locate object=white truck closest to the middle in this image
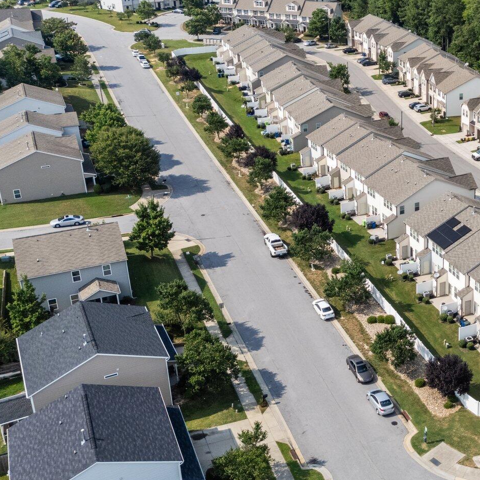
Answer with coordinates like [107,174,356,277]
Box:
[264,233,288,254]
